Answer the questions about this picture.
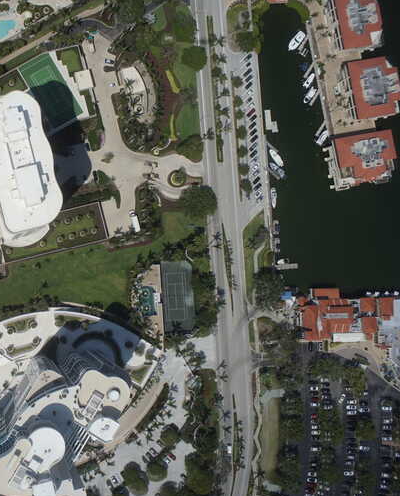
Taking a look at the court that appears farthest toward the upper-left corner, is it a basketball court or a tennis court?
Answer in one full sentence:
The court that appears farthest toward the upper-left corner in the image is a tennis court.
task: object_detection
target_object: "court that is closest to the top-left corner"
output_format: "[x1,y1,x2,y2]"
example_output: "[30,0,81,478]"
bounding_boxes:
[17,53,81,132]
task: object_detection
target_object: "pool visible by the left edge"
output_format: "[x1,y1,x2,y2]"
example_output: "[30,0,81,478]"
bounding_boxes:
[0,18,18,39]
